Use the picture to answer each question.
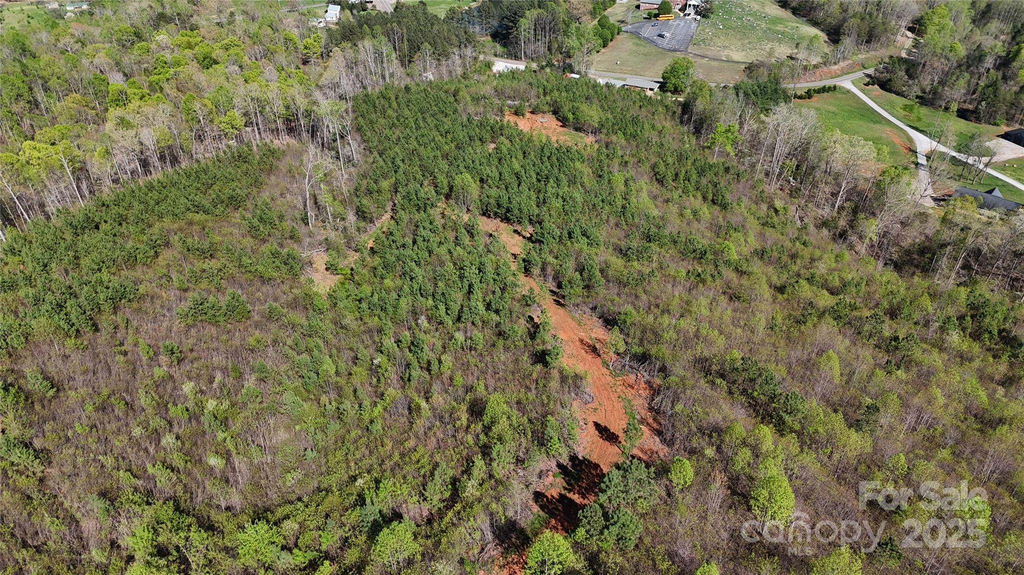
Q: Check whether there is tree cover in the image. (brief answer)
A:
Yes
